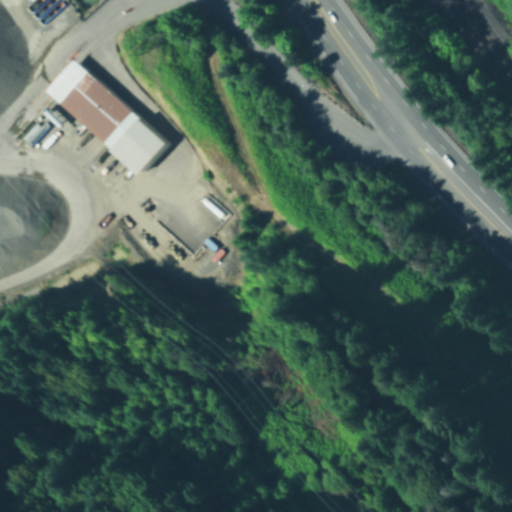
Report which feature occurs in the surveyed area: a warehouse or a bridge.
warehouse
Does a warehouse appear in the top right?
No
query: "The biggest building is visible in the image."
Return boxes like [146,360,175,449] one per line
[46,60,167,174]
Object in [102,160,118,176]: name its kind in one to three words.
vehicle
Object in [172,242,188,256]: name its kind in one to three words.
work vehicle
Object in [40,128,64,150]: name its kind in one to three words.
truck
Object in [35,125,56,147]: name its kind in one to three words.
truck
